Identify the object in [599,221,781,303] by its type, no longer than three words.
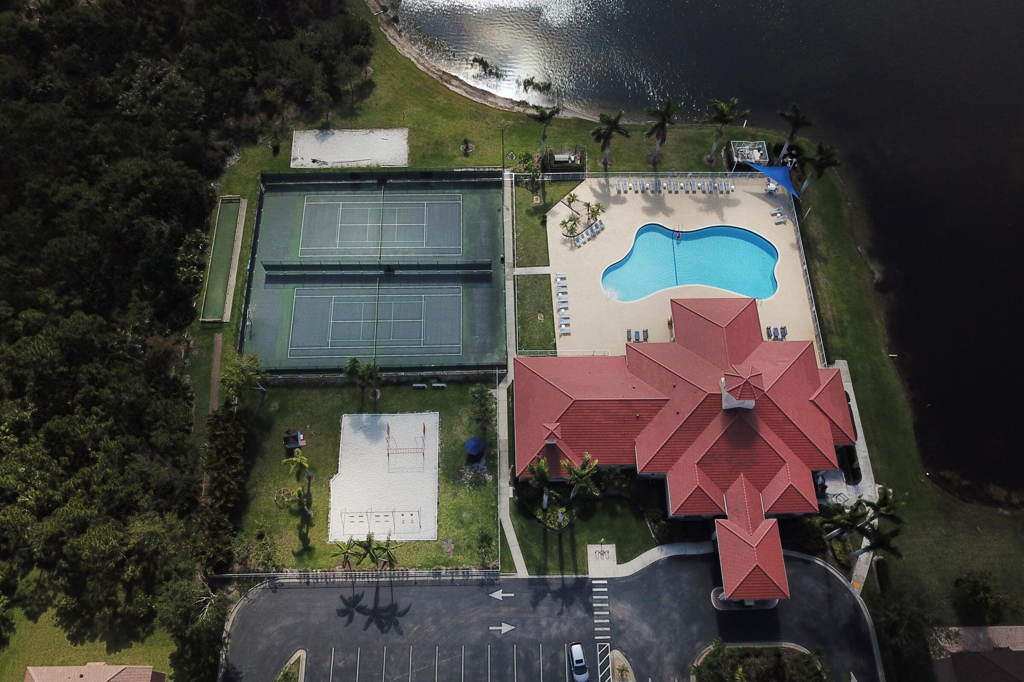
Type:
swimming pool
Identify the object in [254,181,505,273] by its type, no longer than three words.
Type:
tennis court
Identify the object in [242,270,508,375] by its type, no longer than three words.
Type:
tennis court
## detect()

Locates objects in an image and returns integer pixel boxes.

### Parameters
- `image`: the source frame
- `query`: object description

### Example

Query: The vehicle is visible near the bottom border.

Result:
[569,642,591,682]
